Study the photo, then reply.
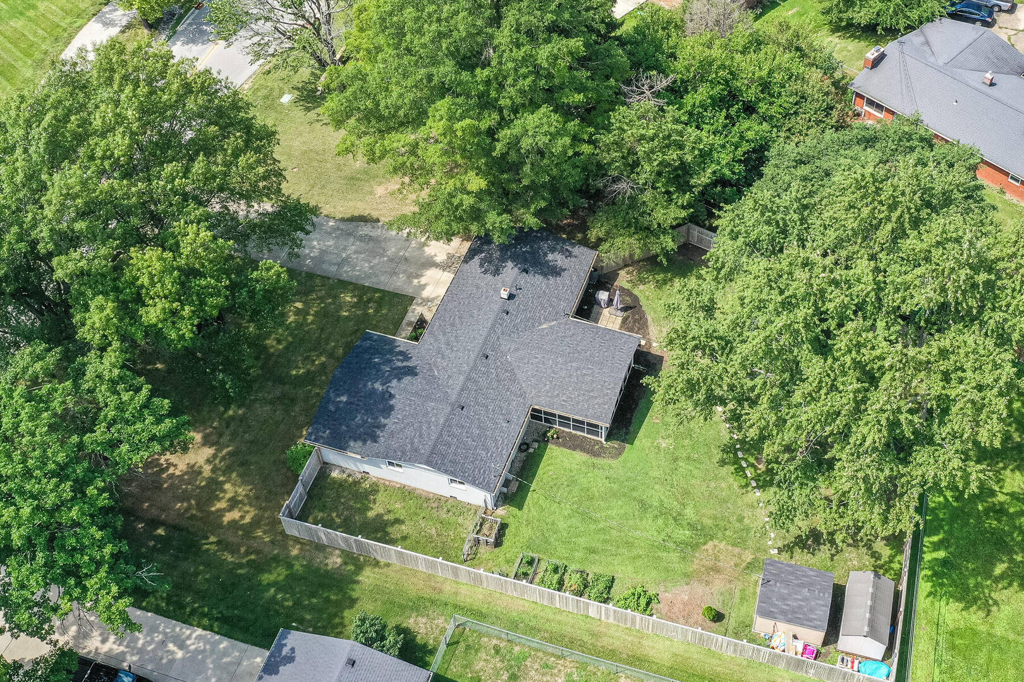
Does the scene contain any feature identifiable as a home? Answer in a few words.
Yes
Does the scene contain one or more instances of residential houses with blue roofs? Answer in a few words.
No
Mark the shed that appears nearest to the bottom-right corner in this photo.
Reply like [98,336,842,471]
[837,573,896,658]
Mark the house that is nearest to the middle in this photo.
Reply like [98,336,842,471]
[304,224,659,516]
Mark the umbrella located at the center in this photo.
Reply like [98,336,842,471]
[608,289,624,318]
